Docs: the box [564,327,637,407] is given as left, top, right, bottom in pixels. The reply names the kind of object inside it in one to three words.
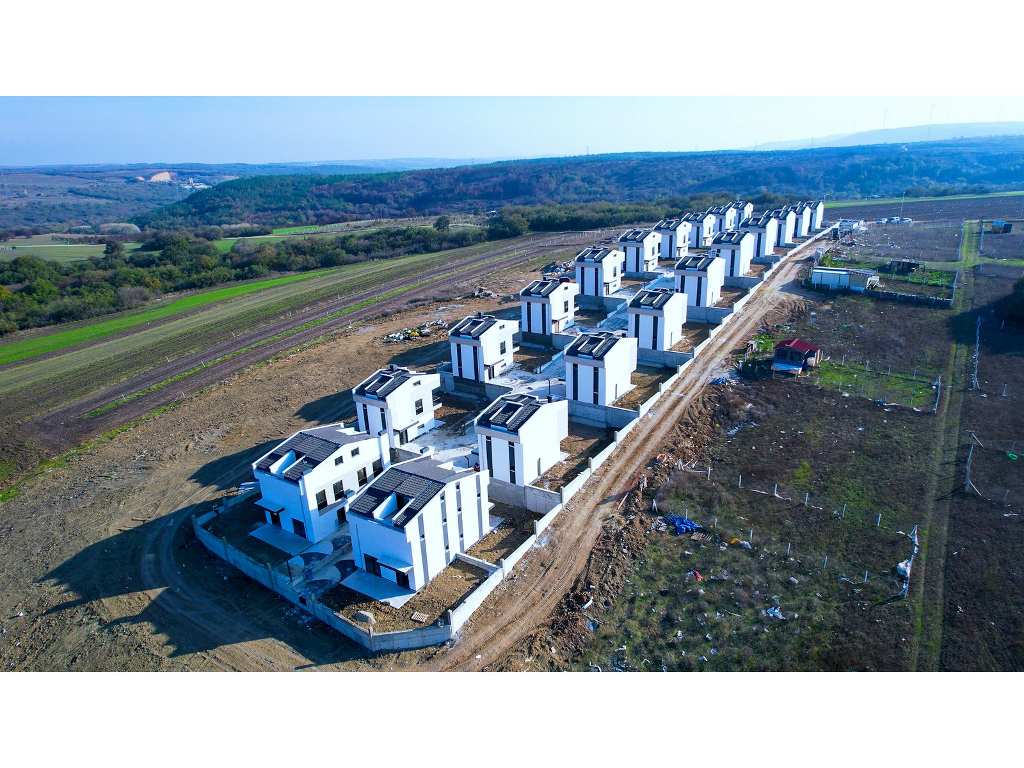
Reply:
house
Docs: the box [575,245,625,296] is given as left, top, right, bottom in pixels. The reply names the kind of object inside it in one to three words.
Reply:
house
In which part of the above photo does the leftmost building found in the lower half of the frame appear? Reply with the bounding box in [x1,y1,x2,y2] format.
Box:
[255,424,393,539]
